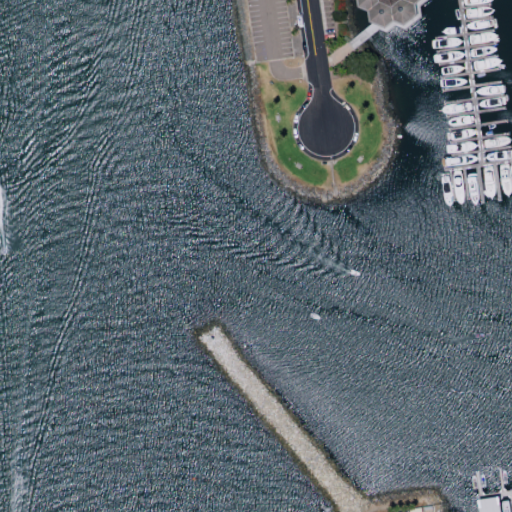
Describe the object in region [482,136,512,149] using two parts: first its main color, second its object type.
white boat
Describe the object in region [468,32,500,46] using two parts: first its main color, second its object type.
white boat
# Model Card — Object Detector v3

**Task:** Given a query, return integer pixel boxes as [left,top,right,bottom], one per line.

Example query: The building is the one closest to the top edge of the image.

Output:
[355,0,428,33]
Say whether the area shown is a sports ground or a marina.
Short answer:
marina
